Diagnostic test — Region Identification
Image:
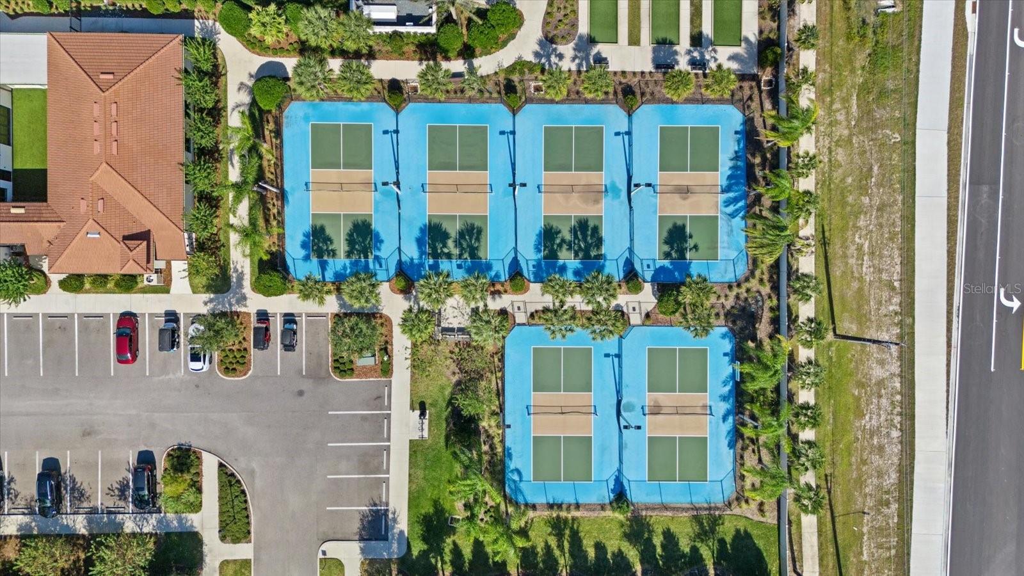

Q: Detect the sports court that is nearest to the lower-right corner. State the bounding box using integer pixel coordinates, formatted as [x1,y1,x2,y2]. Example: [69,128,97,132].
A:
[621,327,736,504]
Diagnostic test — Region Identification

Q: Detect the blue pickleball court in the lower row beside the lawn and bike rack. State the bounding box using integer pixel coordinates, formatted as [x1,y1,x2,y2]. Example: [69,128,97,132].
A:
[505,326,621,504]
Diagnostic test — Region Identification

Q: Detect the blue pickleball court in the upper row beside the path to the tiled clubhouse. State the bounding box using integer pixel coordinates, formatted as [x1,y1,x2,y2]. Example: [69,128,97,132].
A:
[283,101,403,281]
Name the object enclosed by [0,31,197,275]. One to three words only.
building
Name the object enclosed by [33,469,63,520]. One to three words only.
car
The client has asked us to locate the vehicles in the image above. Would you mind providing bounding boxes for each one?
[33,469,63,520]
[281,324,300,353]
[158,327,179,353]
[186,321,211,373]
[112,315,138,365]
[254,325,273,350]
[129,464,156,513]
